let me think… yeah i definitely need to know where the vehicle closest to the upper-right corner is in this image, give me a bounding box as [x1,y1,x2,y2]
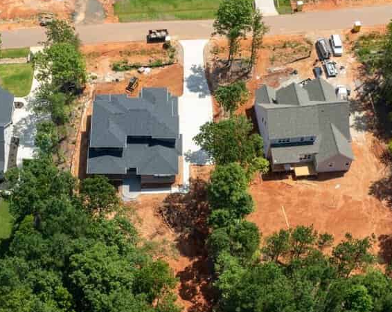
[330,29,345,54]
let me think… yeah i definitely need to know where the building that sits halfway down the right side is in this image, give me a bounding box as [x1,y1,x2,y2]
[252,77,356,180]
